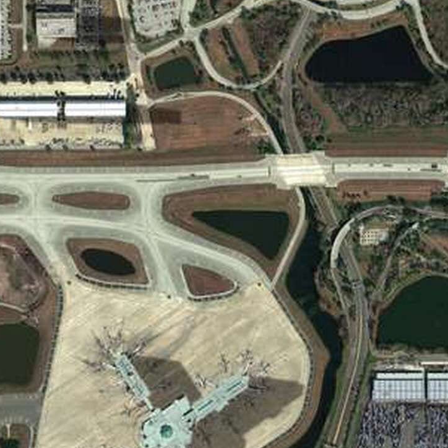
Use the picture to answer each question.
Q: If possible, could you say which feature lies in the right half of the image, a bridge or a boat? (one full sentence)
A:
The feature located in the right half of the image is a bridge.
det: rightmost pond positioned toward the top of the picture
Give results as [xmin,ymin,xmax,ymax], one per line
[305,27,433,86]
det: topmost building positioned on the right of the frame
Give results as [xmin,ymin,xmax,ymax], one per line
[360,231,385,244]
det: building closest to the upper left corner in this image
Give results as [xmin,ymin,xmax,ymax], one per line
[36,13,77,37]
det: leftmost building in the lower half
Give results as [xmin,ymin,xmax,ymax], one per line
[103,341,259,448]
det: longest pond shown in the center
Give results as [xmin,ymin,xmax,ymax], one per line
[193,211,290,259]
